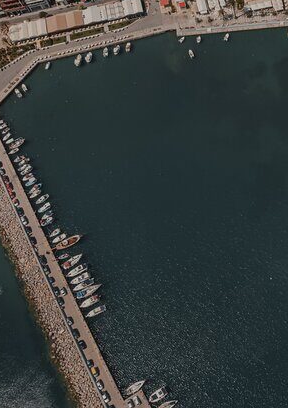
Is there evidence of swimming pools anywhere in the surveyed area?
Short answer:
No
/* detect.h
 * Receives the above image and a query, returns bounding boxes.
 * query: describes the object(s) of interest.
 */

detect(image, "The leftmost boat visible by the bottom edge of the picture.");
[125,380,145,396]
